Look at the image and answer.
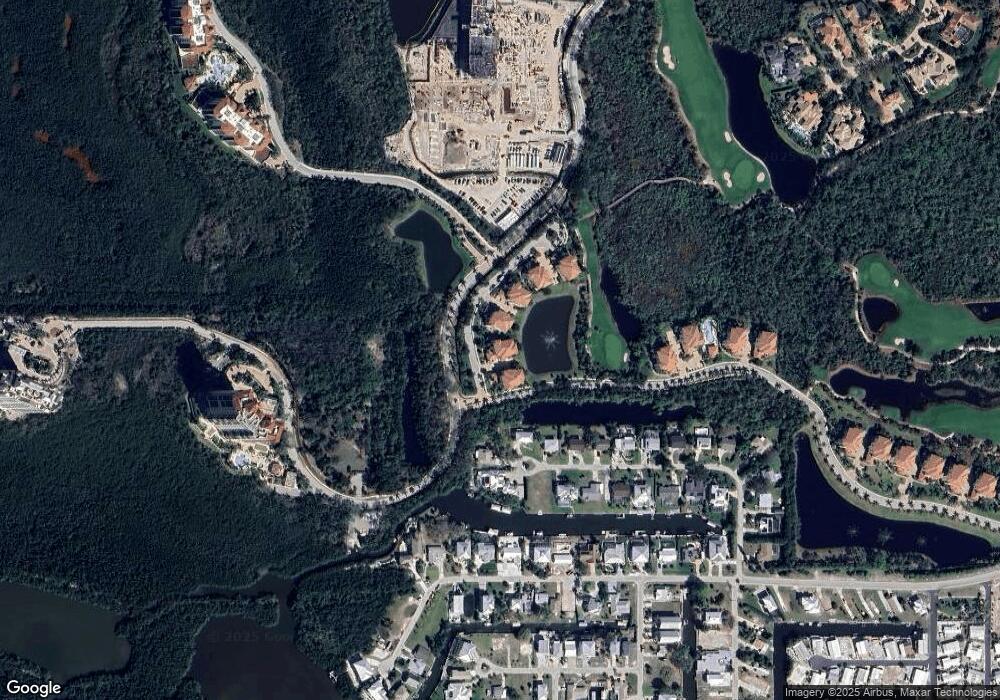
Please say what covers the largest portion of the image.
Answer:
trees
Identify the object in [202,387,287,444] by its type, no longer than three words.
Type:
building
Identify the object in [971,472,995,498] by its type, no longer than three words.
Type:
house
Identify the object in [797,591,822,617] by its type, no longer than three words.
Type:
house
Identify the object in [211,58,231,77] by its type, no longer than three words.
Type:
swimming pool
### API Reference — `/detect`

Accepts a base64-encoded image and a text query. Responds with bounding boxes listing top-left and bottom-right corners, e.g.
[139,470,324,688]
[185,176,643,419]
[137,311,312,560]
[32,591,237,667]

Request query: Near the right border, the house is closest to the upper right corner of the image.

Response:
[939,12,975,47]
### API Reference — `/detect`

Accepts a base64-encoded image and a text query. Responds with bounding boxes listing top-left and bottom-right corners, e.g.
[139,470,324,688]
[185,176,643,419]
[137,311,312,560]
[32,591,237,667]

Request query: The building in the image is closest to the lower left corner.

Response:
[0,382,65,413]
